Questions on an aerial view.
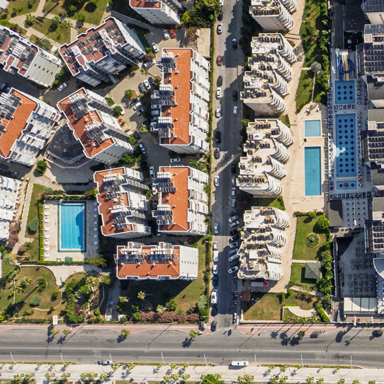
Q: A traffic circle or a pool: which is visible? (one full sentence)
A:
Looking from above, you can make out a pool.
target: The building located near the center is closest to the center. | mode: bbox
[155,167,209,235]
